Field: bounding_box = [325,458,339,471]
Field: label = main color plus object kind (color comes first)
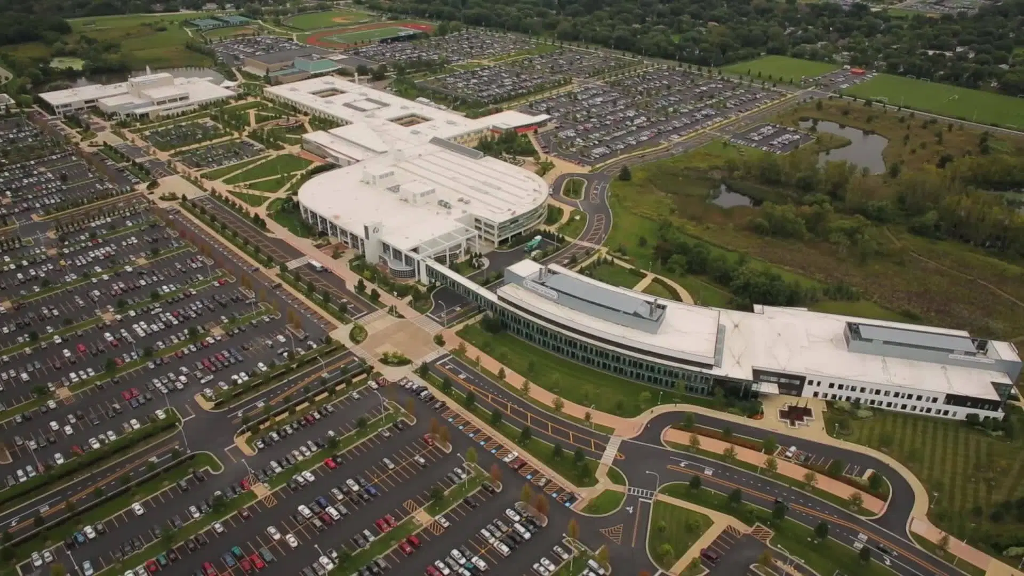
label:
red vehicle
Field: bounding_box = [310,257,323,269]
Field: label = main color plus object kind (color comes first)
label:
white vehicle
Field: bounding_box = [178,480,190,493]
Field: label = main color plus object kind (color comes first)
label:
gray vehicle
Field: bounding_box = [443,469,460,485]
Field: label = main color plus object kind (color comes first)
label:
gray car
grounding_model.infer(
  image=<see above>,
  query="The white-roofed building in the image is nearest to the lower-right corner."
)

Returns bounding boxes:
[720,305,1021,429]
